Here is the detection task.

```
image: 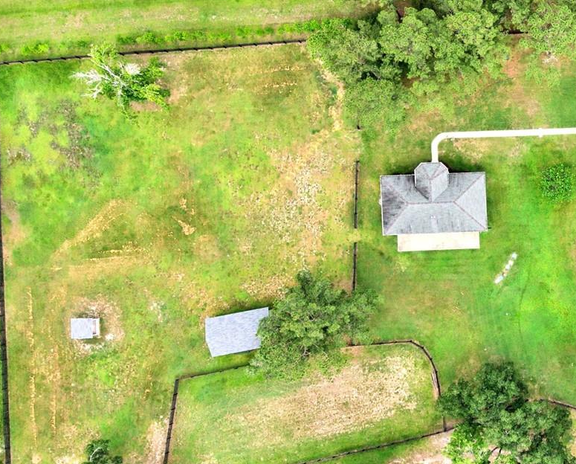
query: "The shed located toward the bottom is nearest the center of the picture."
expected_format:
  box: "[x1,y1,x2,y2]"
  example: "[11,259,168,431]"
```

[206,307,279,357]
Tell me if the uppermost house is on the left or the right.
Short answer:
right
